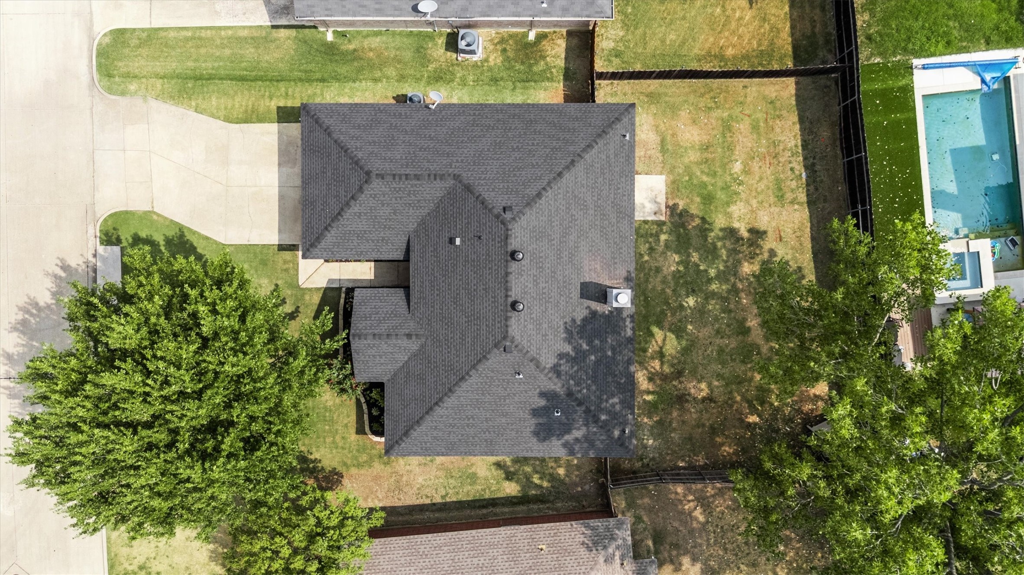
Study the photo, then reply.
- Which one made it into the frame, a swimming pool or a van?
swimming pool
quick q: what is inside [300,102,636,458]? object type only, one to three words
house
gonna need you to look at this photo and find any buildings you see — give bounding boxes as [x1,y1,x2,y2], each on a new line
[300,102,636,458]
[294,0,615,33]
[340,511,657,575]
